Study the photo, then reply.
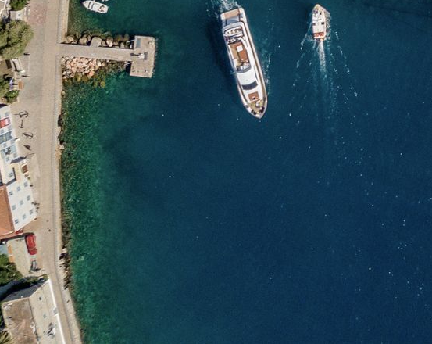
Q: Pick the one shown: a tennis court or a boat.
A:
boat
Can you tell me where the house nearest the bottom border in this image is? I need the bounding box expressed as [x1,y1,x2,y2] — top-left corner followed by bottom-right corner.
[2,270,80,344]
